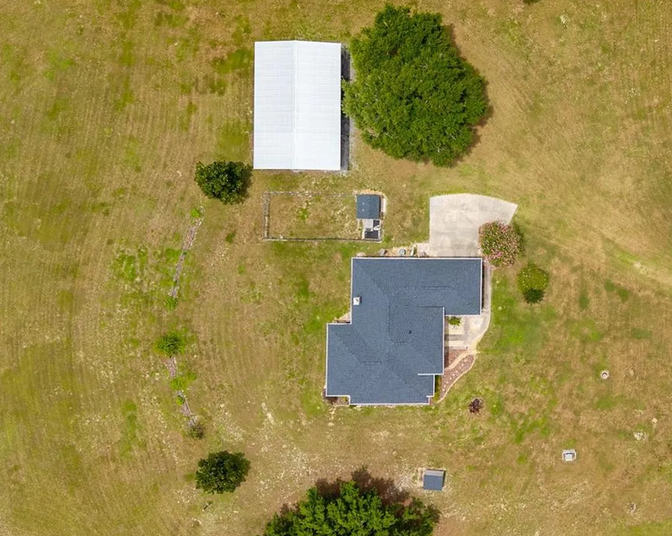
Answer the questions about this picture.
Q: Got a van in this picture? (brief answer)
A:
No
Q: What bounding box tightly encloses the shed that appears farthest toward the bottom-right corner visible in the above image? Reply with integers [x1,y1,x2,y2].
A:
[423,470,444,490]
